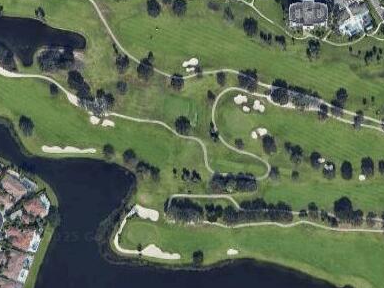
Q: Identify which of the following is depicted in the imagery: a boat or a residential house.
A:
residential house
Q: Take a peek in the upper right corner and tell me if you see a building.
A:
Yes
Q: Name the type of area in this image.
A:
golf course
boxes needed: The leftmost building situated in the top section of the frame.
[288,0,327,29]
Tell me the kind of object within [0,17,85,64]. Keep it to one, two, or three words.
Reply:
pond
